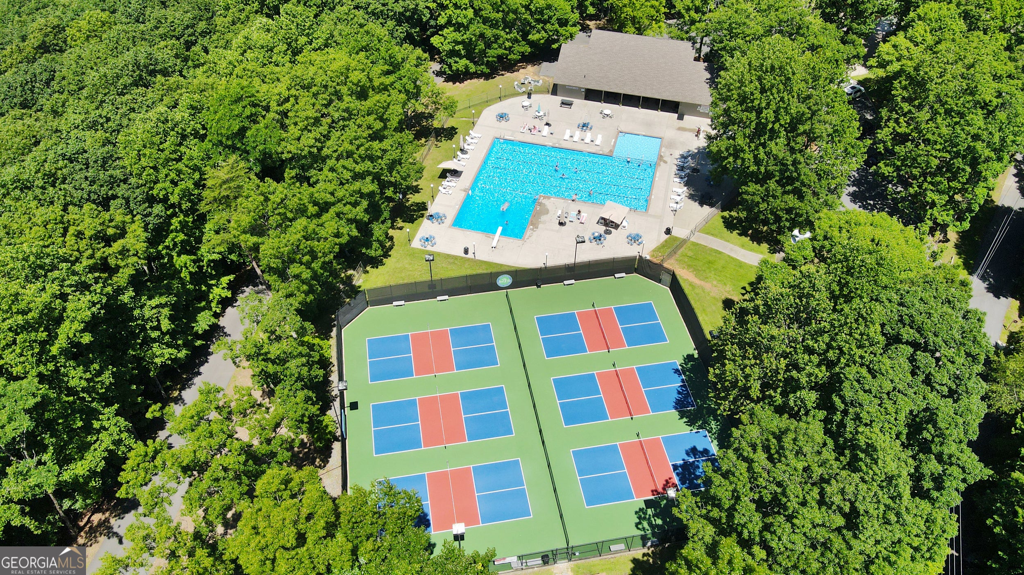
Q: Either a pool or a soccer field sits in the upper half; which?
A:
pool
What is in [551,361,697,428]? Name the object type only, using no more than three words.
sports court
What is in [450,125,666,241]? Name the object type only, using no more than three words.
swimming pool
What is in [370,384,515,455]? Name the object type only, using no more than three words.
sports court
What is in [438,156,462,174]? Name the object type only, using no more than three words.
umbrella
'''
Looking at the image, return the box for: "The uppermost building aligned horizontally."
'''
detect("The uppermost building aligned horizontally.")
[551,29,720,116]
